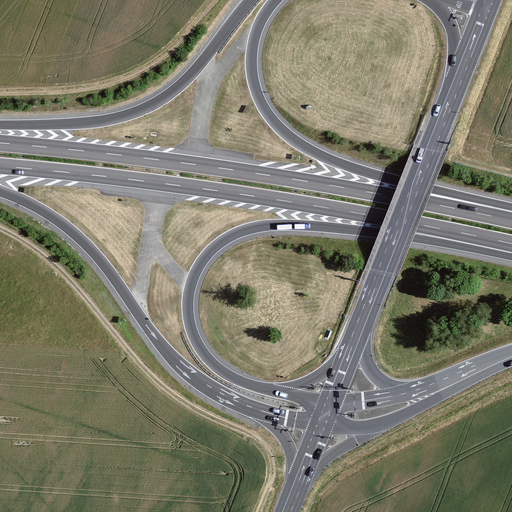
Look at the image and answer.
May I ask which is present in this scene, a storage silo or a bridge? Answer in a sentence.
There is a bridge in the scene.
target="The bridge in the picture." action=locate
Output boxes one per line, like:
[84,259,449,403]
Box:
[364,144,447,274]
